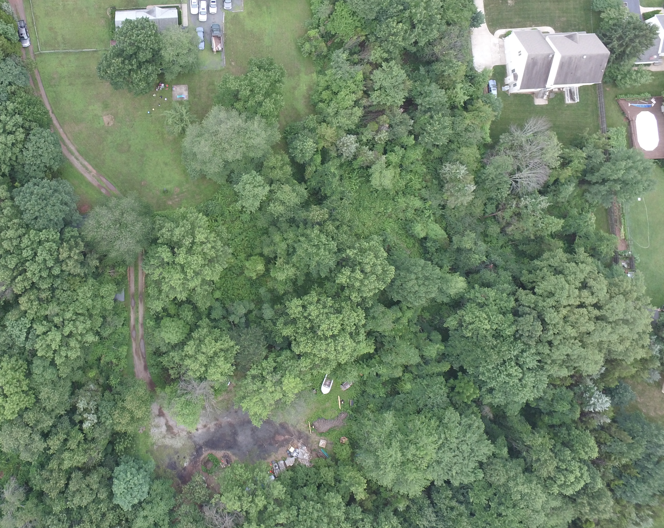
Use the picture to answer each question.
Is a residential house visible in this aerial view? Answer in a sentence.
Yes, this view includes a residential house.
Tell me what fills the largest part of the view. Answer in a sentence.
The scene is dominated by trees.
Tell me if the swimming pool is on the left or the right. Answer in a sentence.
It is on the right.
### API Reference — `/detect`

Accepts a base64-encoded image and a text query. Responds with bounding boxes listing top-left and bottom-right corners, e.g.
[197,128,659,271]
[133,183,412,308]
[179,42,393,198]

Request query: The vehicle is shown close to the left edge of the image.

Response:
[17,20,30,46]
